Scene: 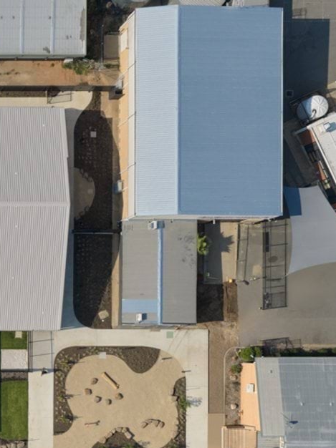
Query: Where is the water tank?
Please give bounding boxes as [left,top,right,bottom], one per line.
[296,97,326,121]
